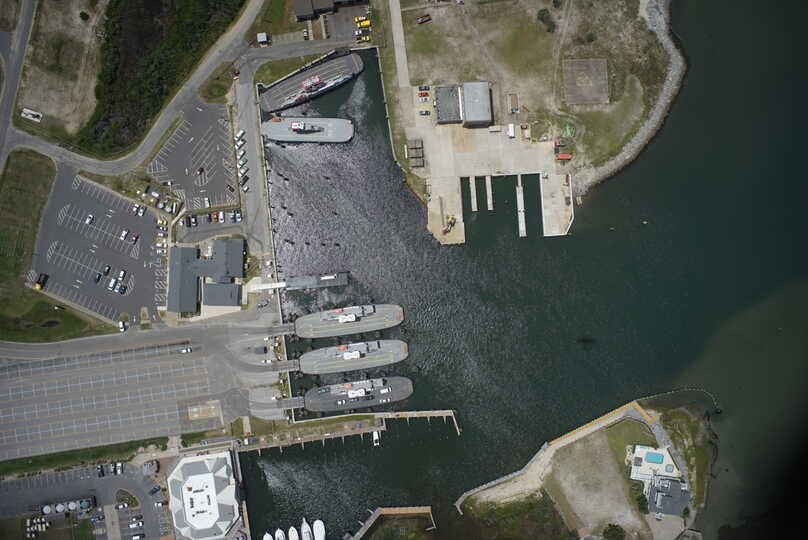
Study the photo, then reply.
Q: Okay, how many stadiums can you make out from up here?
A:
none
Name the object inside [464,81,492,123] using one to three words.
building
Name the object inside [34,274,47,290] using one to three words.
vehicle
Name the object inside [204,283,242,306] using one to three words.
building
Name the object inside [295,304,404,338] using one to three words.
ship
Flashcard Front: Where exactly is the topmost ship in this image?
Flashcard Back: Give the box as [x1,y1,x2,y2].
[264,54,364,112]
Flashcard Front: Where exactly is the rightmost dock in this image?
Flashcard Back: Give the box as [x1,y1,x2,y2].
[544,176,573,235]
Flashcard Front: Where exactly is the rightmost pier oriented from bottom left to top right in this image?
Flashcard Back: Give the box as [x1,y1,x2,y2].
[347,508,381,540]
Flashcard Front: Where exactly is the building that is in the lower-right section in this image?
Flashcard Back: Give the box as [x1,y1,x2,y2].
[647,476,690,519]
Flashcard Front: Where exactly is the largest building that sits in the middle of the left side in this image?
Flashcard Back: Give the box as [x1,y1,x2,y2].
[167,239,245,312]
